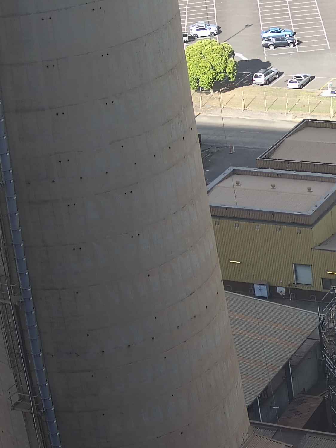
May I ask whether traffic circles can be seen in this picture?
No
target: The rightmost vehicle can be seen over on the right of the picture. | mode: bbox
[289,72,312,86]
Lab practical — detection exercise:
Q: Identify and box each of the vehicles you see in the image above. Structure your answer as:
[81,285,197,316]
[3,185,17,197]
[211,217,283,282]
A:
[188,22,217,37]
[264,33,298,47]
[263,26,292,37]
[254,67,279,83]
[289,72,312,86]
